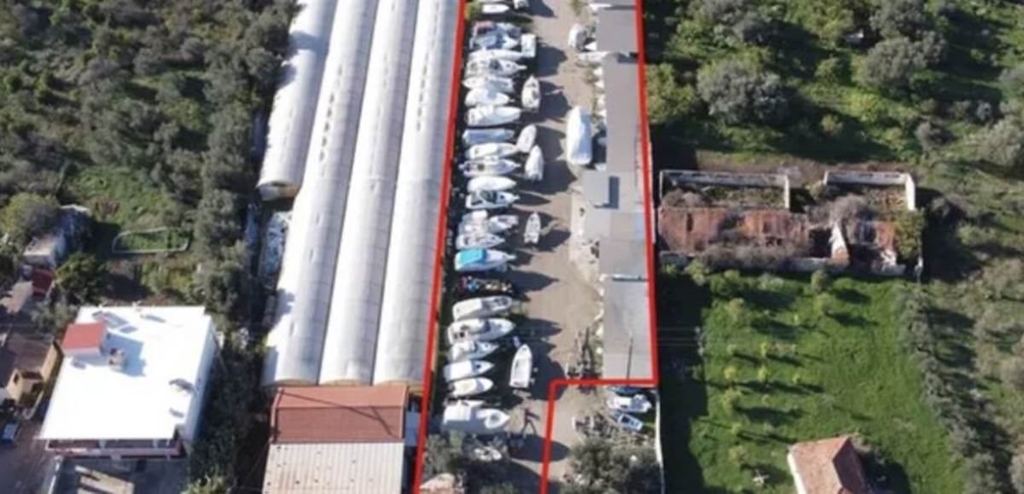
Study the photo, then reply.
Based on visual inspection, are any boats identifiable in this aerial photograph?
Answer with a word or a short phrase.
Yes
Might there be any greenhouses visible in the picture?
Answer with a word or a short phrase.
Yes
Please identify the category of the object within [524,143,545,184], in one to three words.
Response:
boat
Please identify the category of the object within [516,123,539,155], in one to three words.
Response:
boat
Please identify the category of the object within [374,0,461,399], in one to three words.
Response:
greenhouse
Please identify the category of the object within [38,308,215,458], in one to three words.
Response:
house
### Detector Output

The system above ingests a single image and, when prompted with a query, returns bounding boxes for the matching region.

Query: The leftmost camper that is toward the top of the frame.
[522,31,536,55]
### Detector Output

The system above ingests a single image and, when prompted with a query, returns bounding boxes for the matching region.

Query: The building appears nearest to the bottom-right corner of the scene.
[789,435,871,494]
